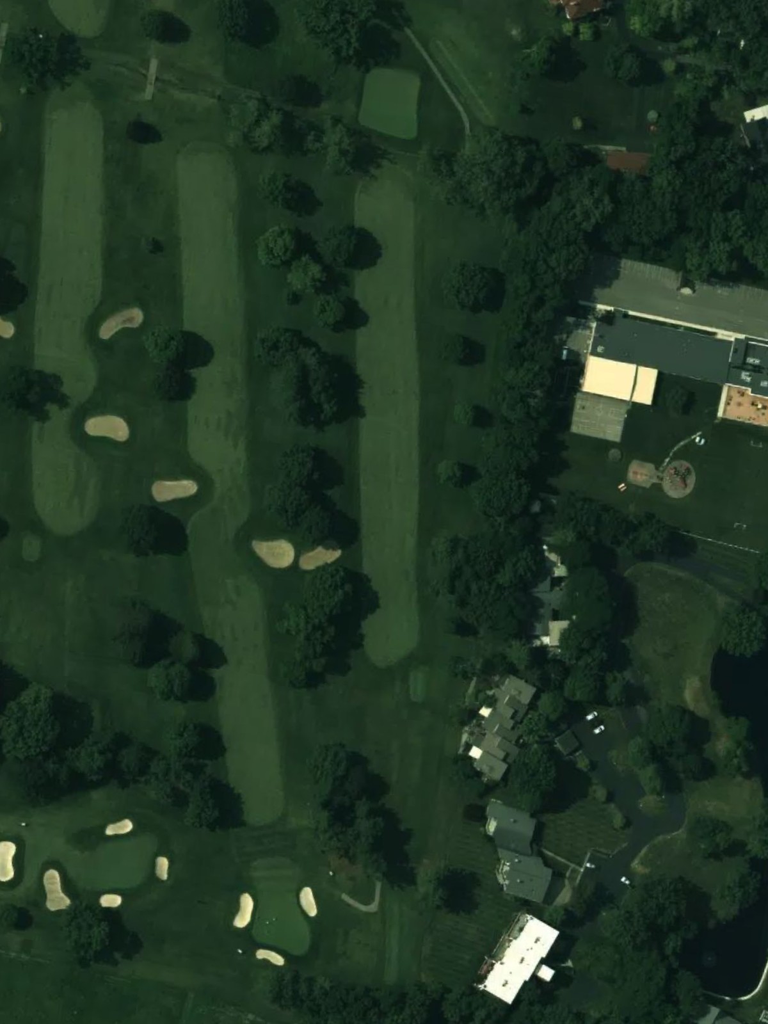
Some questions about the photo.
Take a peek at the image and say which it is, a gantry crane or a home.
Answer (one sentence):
There is a home in the scene.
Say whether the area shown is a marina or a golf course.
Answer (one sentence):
This image shows a golf course.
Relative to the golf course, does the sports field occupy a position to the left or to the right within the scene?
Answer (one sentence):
From the viewer's perspective, the sports field falls to the right of the golf course.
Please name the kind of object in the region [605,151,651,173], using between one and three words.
barn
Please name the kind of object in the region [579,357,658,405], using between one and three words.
building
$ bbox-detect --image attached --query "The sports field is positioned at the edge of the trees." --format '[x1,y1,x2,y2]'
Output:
[554,374,768,553]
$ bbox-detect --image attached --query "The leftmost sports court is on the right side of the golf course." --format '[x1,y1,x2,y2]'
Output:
[570,392,631,442]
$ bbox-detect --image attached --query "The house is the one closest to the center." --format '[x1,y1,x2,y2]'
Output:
[533,572,569,645]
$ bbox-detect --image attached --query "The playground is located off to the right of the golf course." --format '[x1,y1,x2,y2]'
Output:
[626,460,696,498]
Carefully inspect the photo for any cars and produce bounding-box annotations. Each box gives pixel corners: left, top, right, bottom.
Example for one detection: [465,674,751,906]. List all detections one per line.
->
[586,712,597,721]
[593,725,605,734]
[585,863,596,869]
[740,38,745,49]
[620,877,630,885]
